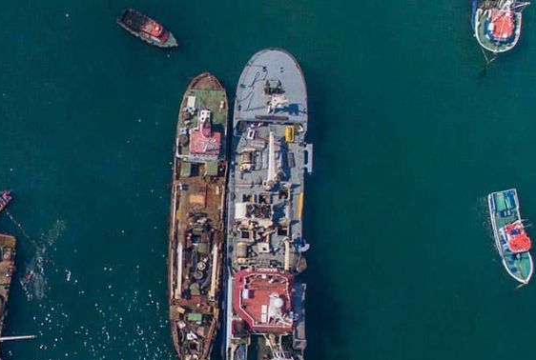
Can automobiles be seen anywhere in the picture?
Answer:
No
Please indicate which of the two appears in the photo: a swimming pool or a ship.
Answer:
ship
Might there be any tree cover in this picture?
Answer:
No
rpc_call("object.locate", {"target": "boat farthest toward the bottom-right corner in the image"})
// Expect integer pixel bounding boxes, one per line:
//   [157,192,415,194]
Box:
[489,191,533,291]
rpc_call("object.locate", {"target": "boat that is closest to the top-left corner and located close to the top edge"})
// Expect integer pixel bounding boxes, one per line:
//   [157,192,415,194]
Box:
[117,9,178,49]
